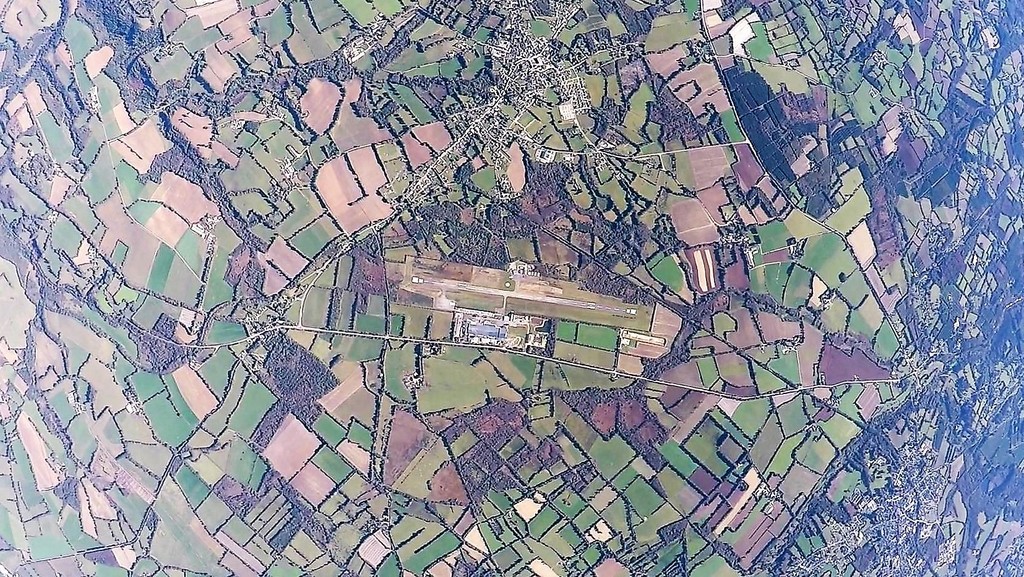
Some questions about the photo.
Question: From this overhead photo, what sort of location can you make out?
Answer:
farmland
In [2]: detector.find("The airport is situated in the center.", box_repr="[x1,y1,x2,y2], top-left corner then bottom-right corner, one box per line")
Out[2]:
[402,256,656,335]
